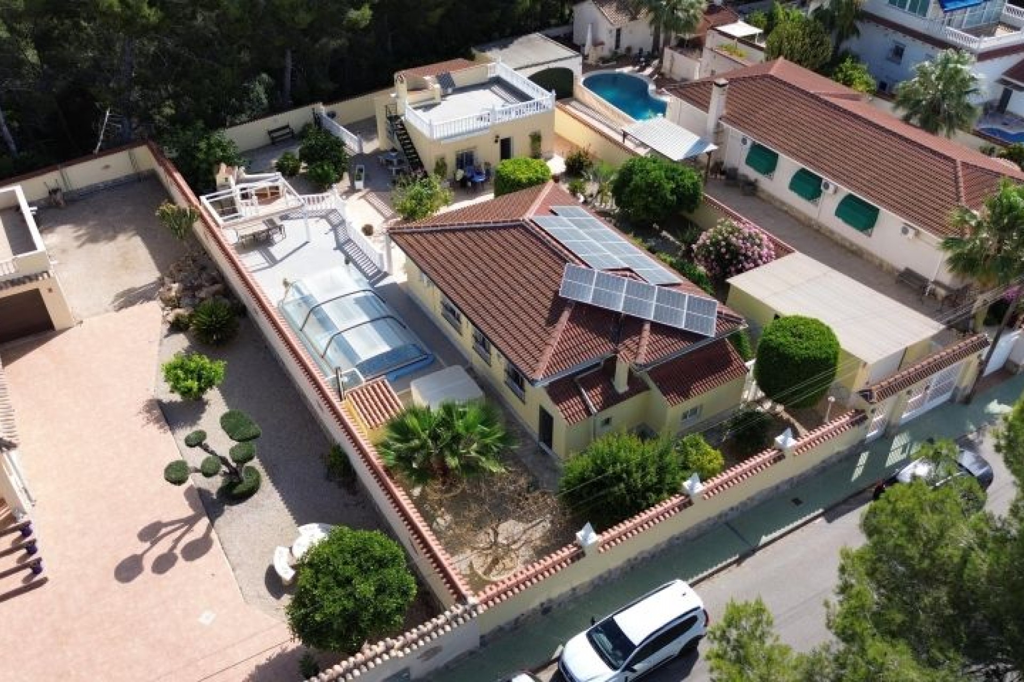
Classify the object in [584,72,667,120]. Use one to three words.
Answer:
swimming pool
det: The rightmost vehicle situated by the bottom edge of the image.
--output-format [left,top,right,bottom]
[555,588,713,682]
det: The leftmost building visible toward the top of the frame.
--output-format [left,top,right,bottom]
[0,184,72,343]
